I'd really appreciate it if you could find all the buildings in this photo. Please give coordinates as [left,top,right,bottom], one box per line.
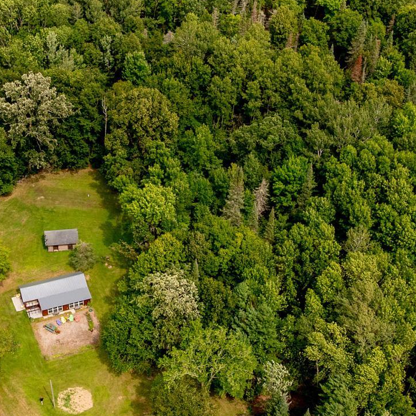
[43,227,76,253]
[15,270,93,320]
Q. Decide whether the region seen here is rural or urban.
rural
